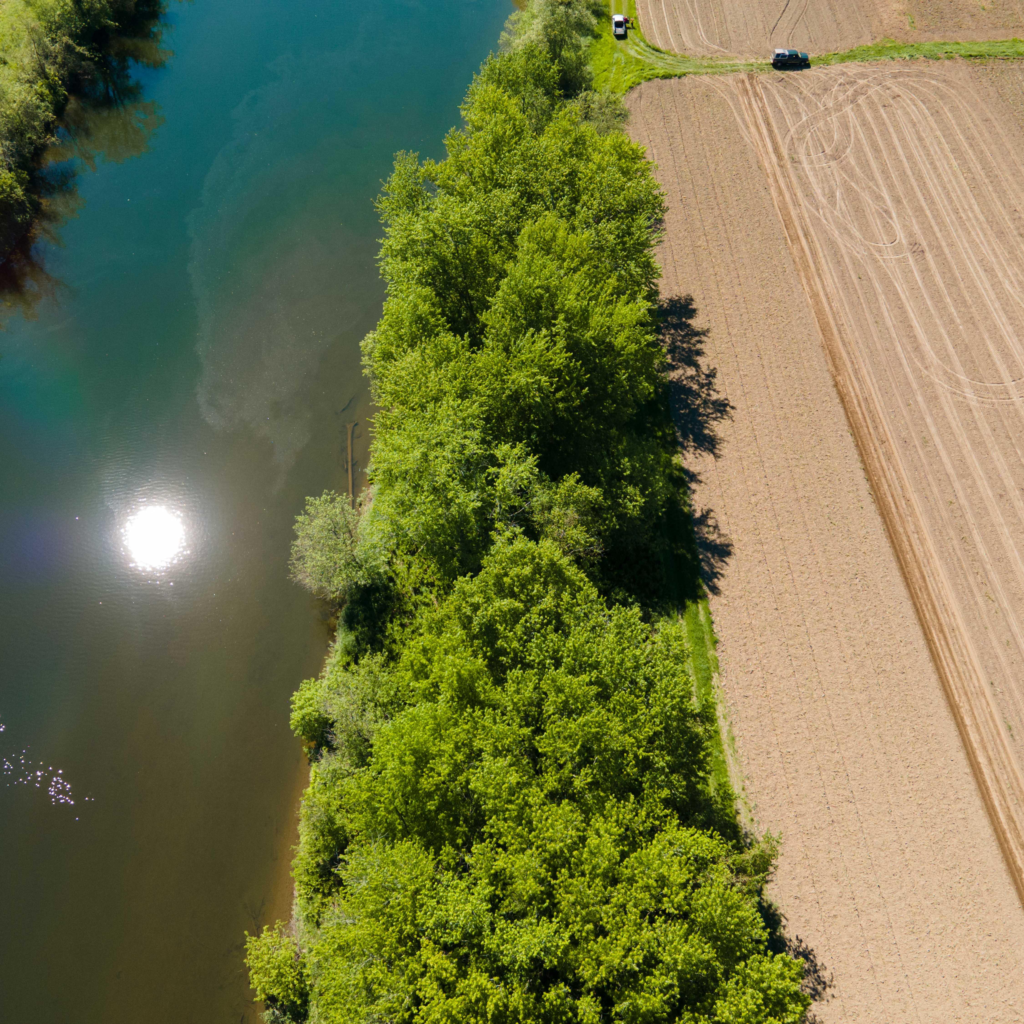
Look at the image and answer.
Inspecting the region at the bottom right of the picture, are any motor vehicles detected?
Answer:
No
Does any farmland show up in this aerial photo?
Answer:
Yes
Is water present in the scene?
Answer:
Yes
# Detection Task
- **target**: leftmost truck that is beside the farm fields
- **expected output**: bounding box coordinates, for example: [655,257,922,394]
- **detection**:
[609,13,631,35]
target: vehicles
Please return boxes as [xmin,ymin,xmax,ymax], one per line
[609,13,631,35]
[768,47,810,66]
